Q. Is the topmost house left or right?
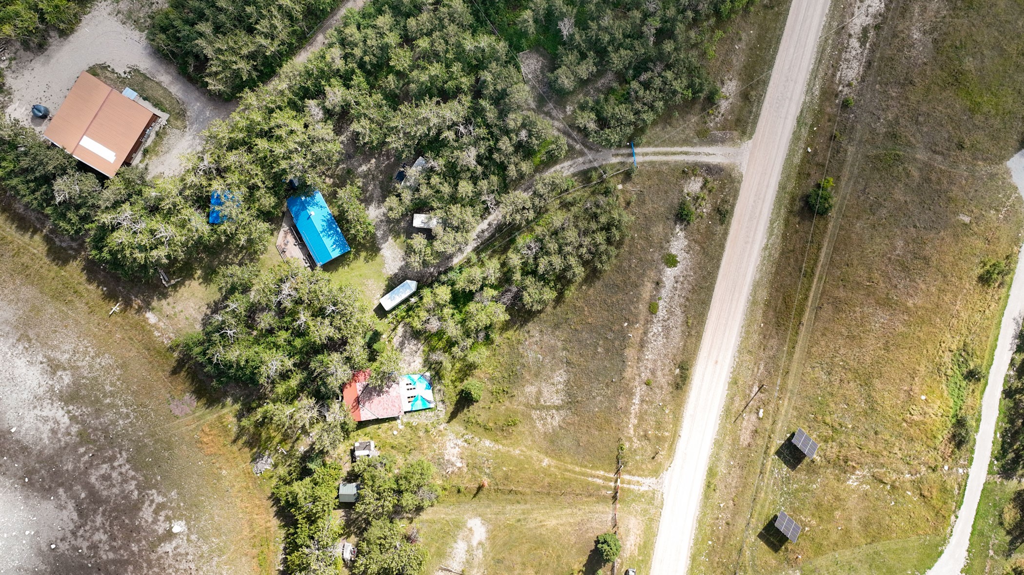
left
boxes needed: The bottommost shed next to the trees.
[339,481,361,502]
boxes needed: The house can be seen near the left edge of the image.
[44,70,161,171]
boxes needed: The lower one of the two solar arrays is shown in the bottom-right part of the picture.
[774,511,801,543]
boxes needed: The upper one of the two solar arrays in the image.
[792,428,819,459]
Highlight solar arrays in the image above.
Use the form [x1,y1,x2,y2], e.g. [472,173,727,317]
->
[774,511,801,543]
[792,428,819,459]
